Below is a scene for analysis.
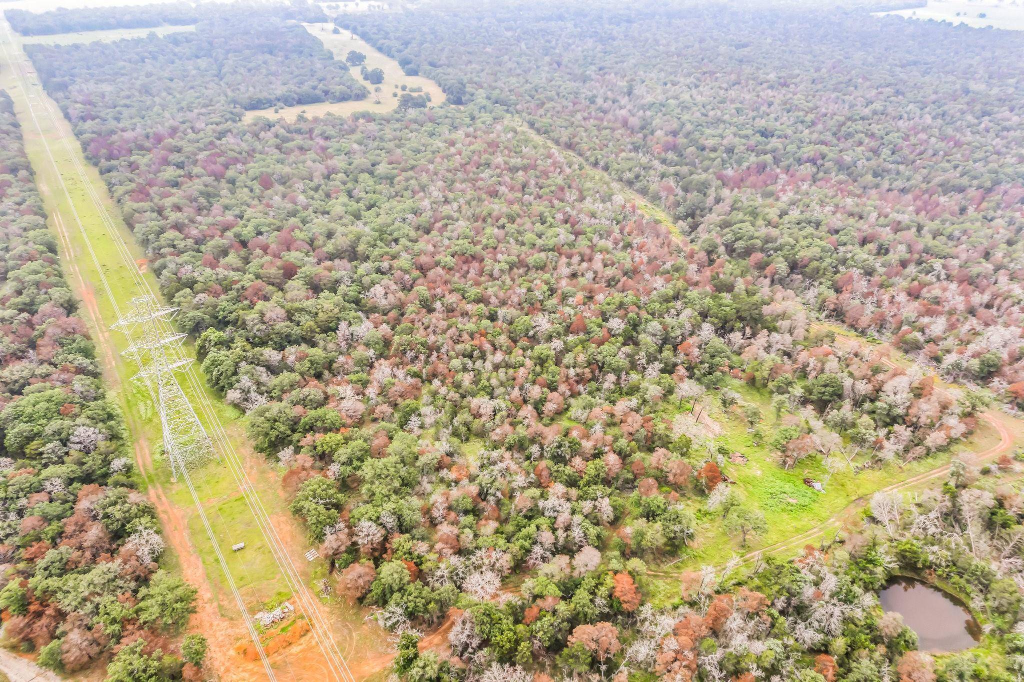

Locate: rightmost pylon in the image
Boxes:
[111,303,225,488]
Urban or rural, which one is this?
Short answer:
rural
